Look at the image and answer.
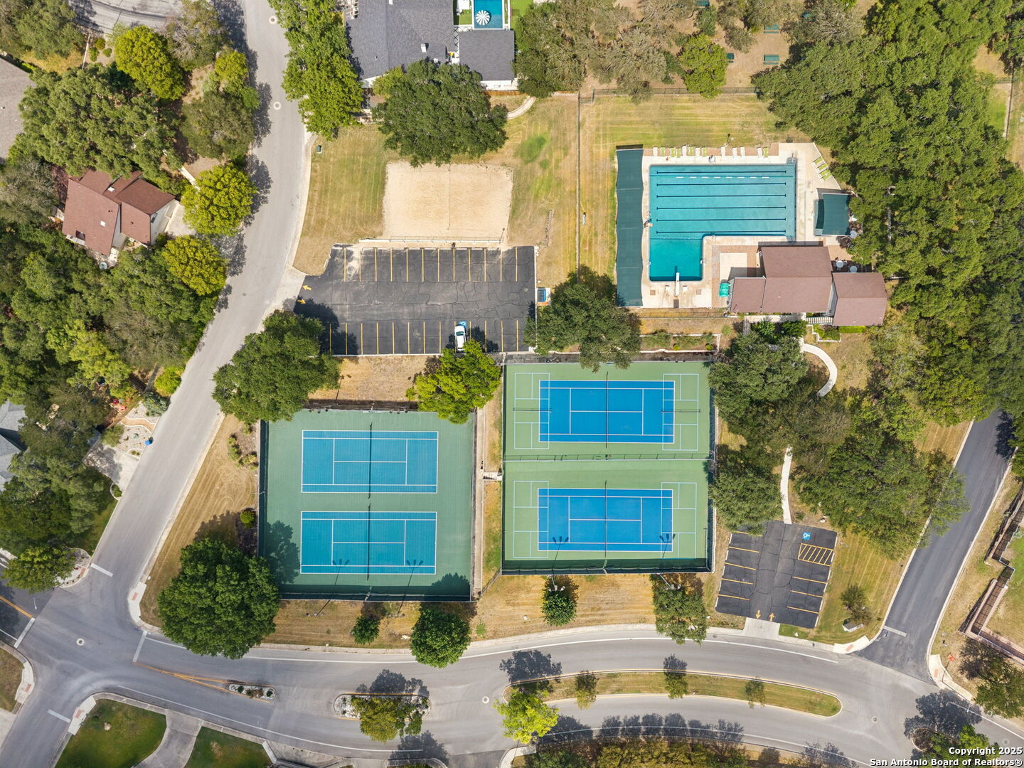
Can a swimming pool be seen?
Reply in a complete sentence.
Yes, the image includes a swimming pool.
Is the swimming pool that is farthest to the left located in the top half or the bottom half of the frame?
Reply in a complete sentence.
The swimming pool that is farthest to the left is in the top half of the image.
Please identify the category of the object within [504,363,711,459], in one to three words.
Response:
tennis court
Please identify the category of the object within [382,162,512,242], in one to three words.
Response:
sports court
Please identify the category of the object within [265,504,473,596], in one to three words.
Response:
tennis court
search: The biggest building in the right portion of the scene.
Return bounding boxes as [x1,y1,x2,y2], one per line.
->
[728,246,887,326]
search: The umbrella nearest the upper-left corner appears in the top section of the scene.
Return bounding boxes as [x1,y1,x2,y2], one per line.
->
[476,11,490,26]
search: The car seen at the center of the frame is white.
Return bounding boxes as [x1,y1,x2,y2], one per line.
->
[454,325,467,351]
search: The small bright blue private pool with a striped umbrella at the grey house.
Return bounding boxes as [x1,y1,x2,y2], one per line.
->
[472,0,505,30]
